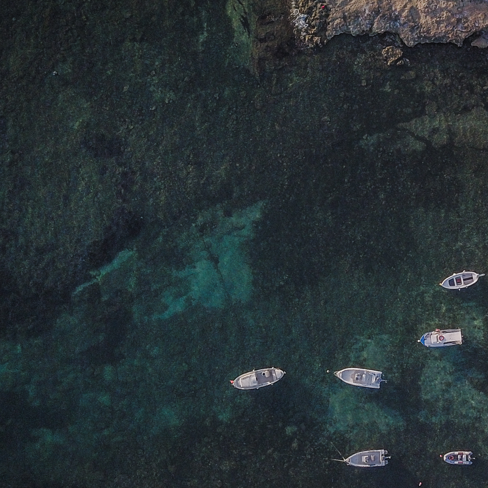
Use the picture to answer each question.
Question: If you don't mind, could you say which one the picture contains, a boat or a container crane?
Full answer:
This aerial view contains a boat.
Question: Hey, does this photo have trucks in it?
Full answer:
No, I find no truck anywhere in the image.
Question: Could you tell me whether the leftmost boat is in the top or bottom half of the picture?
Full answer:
The bottom half of the photo is where the leftmost boat is.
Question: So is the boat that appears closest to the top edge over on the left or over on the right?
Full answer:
The boat that appears closest to the top edge sits on the right side.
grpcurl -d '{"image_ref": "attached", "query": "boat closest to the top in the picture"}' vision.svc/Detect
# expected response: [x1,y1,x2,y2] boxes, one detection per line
[438,268,486,290]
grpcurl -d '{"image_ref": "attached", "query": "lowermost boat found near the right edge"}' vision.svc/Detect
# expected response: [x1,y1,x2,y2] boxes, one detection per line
[444,450,476,464]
